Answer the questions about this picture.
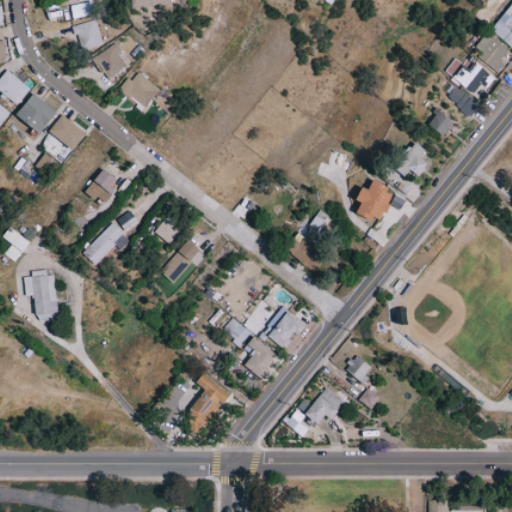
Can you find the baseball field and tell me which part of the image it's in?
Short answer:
right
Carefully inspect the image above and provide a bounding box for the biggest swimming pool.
[274,290,294,304]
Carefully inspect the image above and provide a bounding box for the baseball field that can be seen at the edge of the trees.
[392,216,512,400]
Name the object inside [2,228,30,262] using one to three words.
barn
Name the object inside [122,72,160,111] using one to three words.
house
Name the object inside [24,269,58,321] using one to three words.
house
